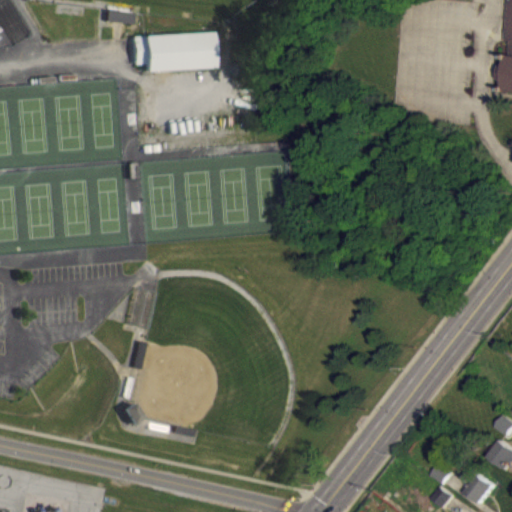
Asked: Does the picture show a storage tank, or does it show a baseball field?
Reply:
baseball field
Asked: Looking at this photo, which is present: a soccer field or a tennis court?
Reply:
tennis court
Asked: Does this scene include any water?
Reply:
No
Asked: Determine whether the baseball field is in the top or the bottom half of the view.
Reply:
bottom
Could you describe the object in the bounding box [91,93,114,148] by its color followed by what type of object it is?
green tennis court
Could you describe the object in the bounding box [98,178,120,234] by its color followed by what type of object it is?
green tennis court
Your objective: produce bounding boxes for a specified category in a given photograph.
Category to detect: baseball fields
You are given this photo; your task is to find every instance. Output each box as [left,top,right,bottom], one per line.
[132,341,218,427]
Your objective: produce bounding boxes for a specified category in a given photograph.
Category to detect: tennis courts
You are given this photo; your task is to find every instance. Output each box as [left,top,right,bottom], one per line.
[220,168,249,224]
[26,183,54,239]
[0,186,18,241]
[98,178,120,234]
[54,96,84,152]
[91,93,114,148]
[19,98,48,154]
[0,100,11,156]
[184,171,213,227]
[62,180,90,236]
[148,174,177,230]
